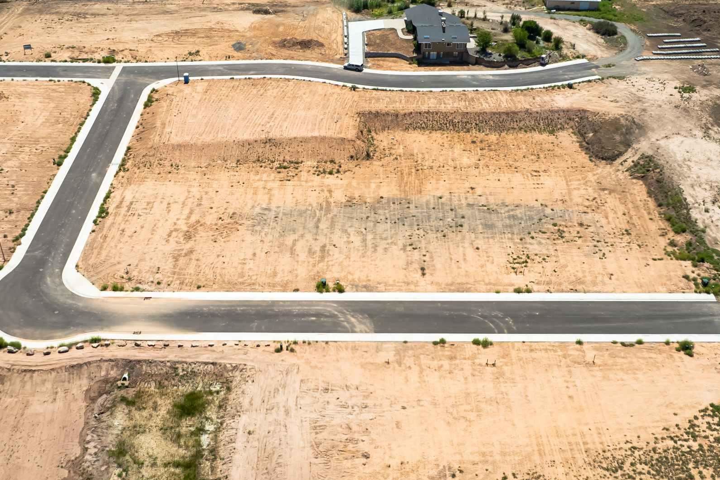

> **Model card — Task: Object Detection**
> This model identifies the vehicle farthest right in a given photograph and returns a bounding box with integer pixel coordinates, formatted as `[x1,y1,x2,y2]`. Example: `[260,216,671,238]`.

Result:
[542,52,556,65]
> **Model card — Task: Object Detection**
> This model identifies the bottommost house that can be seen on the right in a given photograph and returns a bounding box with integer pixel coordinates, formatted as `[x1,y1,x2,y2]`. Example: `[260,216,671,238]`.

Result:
[402,10,472,65]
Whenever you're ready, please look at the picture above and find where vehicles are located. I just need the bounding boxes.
[542,52,556,65]
[341,62,362,70]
